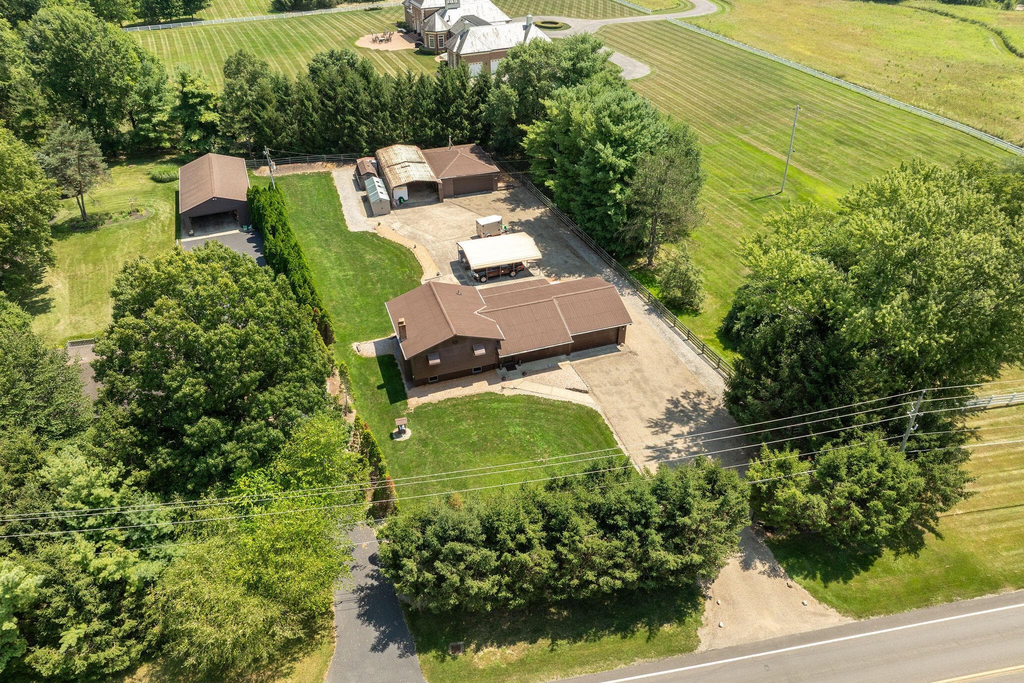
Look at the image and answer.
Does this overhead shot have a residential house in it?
Yes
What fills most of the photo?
trees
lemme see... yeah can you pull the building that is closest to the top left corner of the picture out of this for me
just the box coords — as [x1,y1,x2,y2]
[172,155,247,237]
